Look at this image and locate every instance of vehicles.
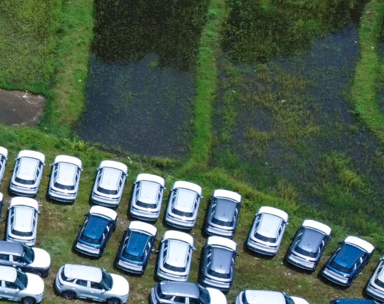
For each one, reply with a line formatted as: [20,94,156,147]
[323,237,374,288]
[0,241,54,278]
[92,160,129,209]
[0,147,9,190]
[205,188,243,239]
[202,237,240,291]
[58,265,129,304]
[368,257,384,303]
[76,208,119,258]
[154,282,227,304]
[289,221,331,273]
[49,156,83,203]
[248,205,289,257]
[166,181,203,230]
[158,231,194,283]
[11,150,46,197]
[0,266,45,304]
[7,199,40,247]
[118,222,156,275]
[238,289,310,304]
[130,174,166,222]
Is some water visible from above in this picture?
Yes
